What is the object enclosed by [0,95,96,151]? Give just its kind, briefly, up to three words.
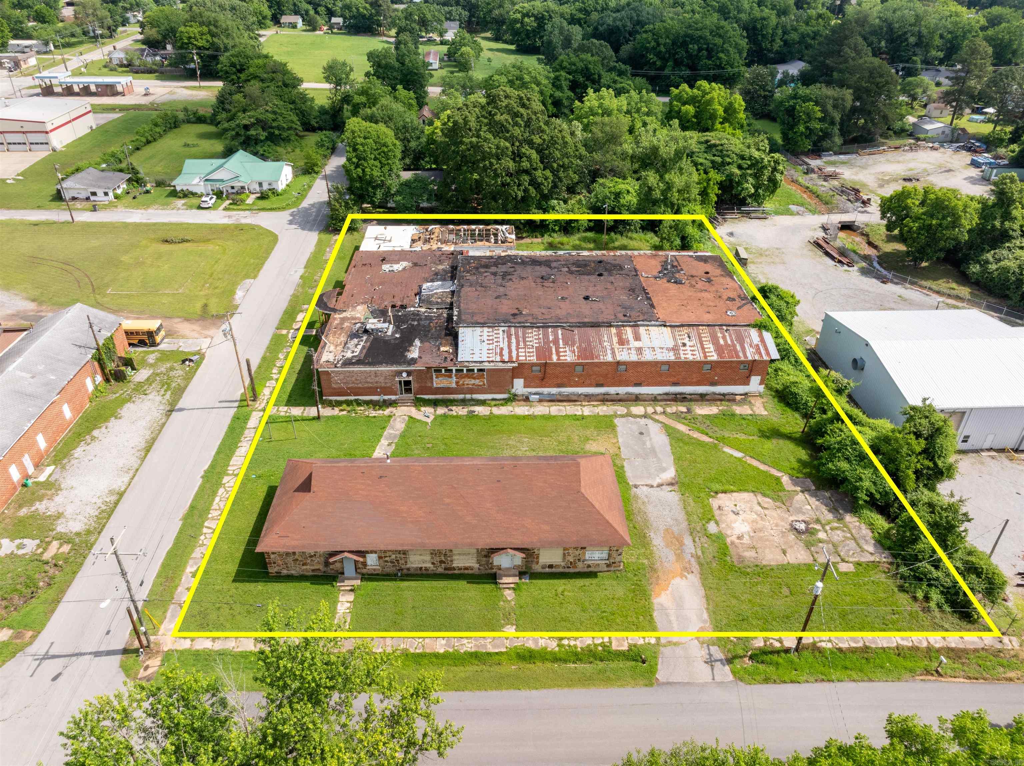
building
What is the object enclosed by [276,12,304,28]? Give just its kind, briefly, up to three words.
house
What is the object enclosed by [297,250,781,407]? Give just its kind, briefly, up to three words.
building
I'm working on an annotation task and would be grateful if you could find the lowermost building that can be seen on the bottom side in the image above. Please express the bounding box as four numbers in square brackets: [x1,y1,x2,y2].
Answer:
[255,448,633,597]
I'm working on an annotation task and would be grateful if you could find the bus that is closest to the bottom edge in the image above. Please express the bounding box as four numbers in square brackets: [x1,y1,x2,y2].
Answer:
[122,317,166,346]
